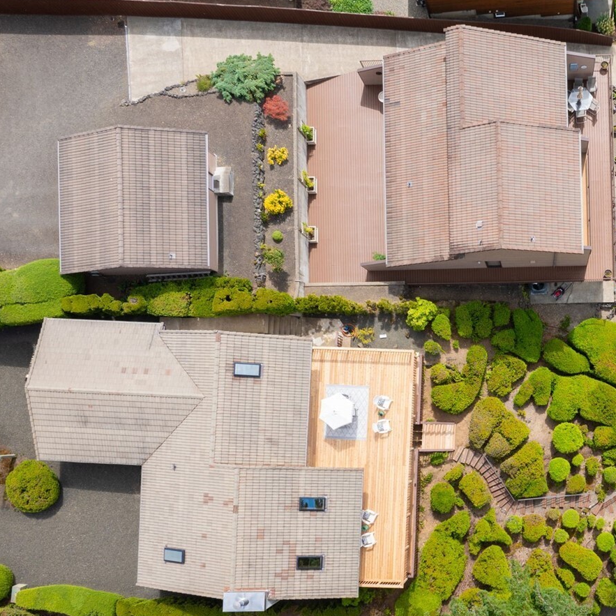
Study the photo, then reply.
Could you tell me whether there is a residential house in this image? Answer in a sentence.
Yes, there's a residential house down there.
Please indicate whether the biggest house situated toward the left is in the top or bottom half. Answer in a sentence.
Seen from above, the biggest house situated toward the left lies in the bottom half of the view.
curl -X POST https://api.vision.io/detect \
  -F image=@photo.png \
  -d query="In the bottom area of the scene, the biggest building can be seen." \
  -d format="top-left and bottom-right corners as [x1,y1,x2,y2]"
[24,317,365,612]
